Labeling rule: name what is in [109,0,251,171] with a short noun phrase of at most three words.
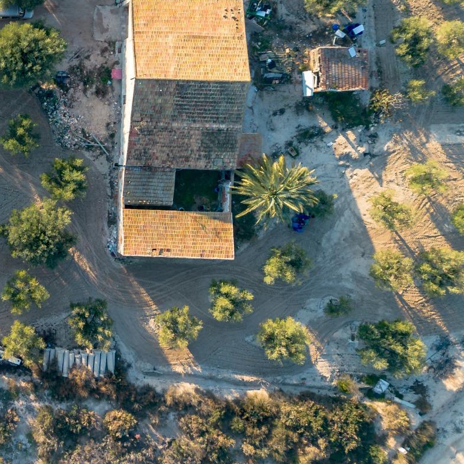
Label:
house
